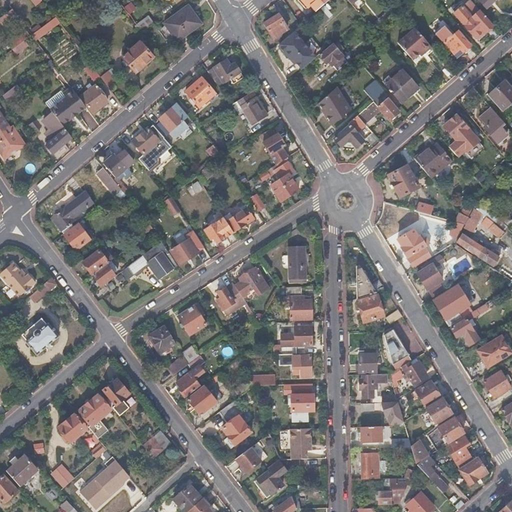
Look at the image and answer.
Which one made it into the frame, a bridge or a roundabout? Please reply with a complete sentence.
It is a roundabout that can be seen here.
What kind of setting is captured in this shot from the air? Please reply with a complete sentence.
This looks like a residential area.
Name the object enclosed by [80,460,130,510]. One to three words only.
building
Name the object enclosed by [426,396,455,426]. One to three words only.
house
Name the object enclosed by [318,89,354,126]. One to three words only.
house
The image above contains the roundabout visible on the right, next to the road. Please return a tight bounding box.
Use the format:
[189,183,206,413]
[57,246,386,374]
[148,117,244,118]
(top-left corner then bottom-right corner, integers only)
[318,173,373,228]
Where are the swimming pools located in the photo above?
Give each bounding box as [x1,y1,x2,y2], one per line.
[222,346,234,358]
[454,260,470,274]
[24,163,38,175]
